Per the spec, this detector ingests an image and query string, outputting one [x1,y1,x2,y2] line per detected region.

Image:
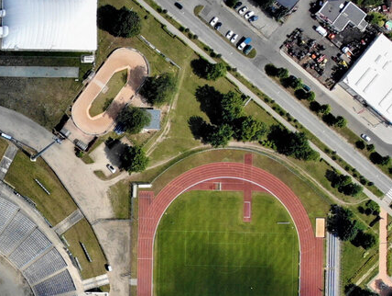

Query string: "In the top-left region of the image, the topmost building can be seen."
[0,0,101,55]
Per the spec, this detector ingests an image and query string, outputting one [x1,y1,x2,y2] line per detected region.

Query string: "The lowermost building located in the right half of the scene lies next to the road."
[331,33,392,133]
